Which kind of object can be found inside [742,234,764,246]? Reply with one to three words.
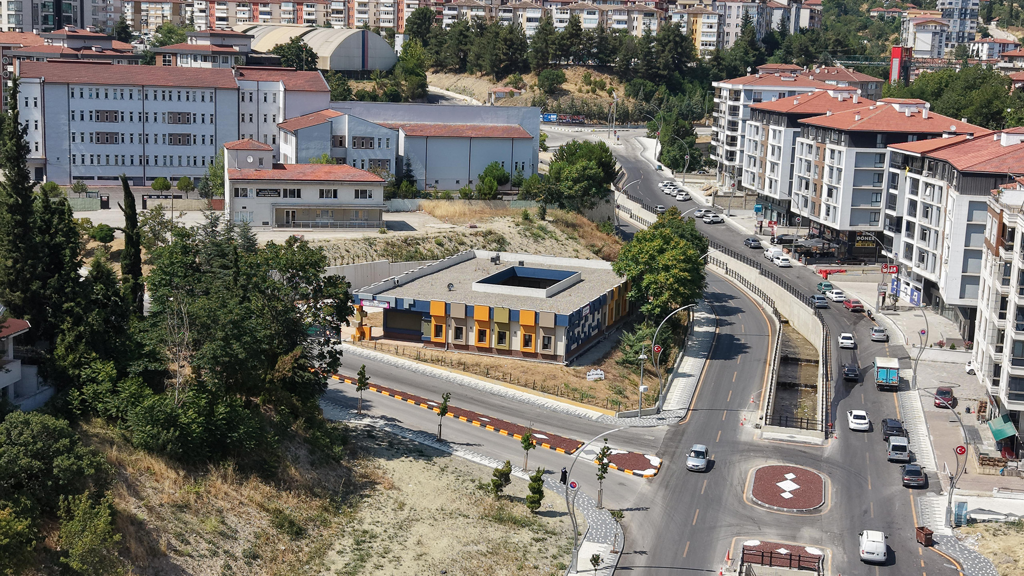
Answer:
vehicle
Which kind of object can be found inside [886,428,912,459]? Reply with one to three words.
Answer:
car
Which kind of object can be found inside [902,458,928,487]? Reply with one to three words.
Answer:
car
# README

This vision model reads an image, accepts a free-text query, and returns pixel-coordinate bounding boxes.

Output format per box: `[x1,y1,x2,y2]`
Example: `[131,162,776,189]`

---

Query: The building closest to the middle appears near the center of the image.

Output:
[353,248,632,365]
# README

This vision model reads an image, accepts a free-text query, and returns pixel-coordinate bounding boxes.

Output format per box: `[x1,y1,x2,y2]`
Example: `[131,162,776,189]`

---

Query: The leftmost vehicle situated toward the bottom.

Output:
[687,440,712,470]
